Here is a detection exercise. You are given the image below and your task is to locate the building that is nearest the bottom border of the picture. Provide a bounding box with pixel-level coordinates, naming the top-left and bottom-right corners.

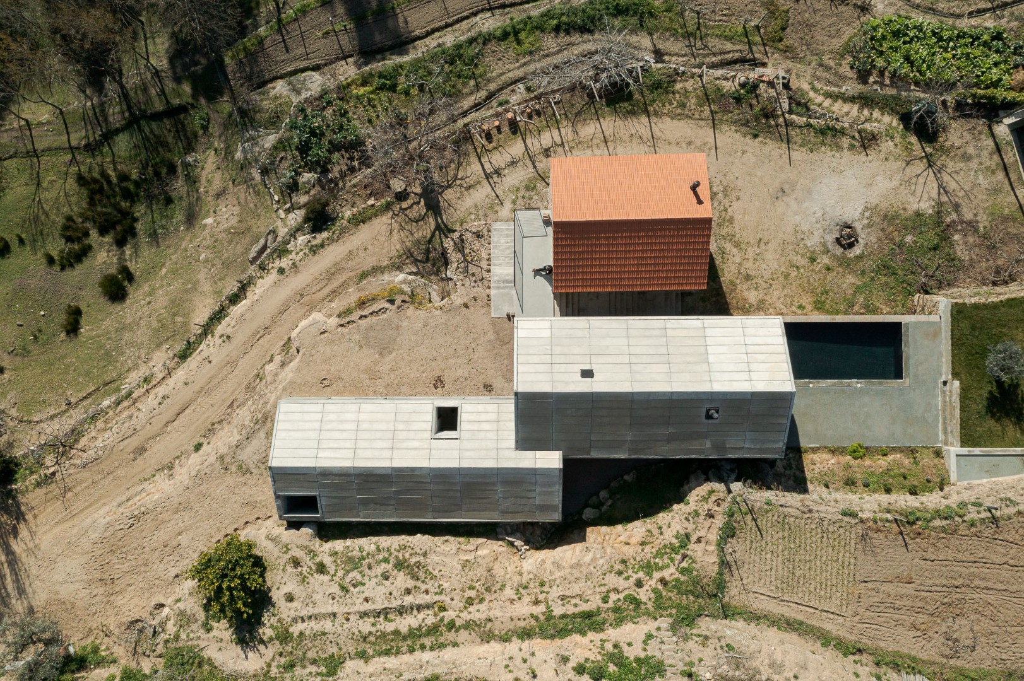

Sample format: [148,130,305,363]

[269,393,563,523]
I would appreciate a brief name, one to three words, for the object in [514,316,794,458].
house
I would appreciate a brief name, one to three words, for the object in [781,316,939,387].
swimming pool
